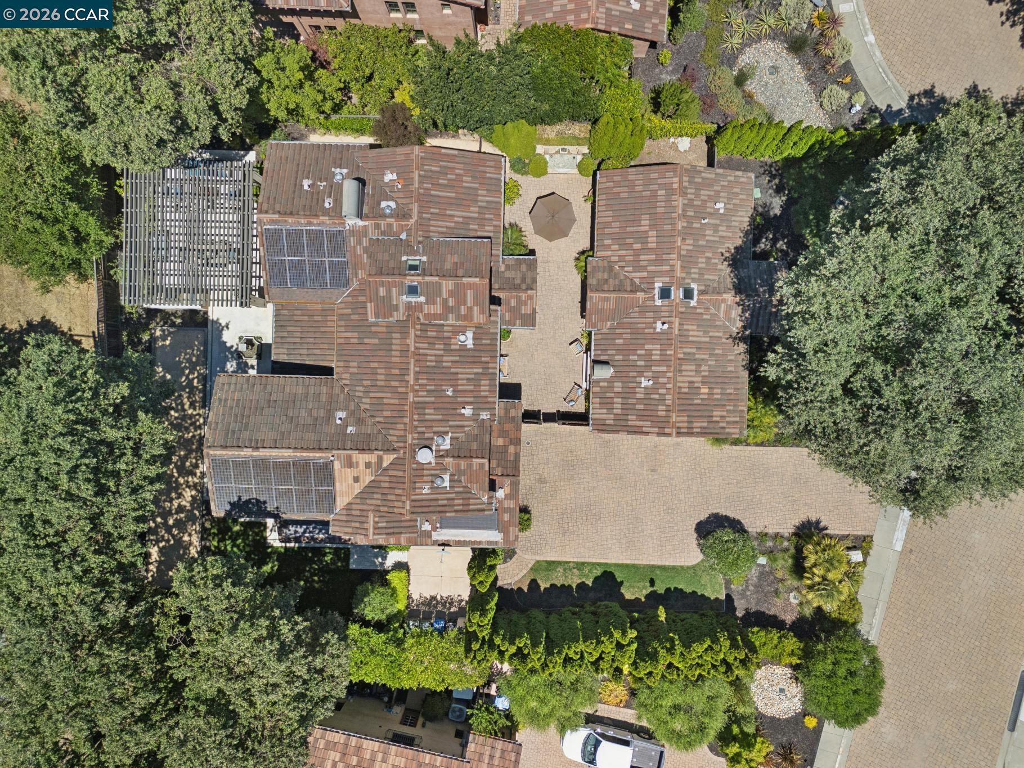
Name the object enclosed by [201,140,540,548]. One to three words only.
house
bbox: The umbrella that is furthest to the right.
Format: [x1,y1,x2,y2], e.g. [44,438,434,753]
[529,192,576,242]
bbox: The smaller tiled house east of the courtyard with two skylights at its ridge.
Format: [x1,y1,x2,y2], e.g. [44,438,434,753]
[582,161,787,440]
